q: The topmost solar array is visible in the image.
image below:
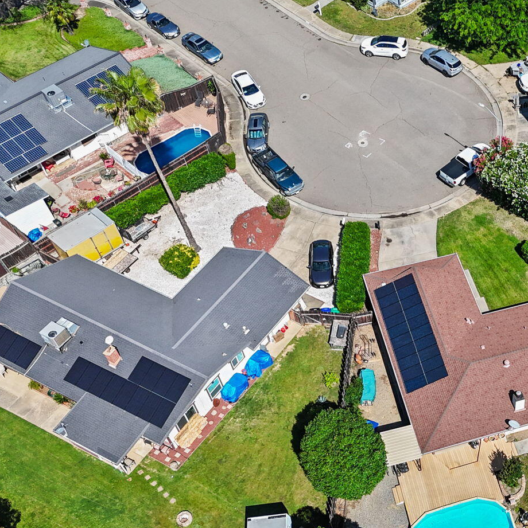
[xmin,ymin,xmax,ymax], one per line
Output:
[76,64,131,107]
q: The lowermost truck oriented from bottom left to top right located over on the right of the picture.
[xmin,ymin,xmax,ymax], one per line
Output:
[436,141,490,186]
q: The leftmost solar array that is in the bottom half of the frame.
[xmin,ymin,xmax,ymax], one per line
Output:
[0,326,41,368]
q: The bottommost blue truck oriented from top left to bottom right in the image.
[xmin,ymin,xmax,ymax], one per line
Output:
[254,146,304,193]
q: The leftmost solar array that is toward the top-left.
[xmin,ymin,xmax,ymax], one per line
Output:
[0,112,46,162]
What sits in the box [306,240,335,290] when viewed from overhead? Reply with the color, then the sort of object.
black car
